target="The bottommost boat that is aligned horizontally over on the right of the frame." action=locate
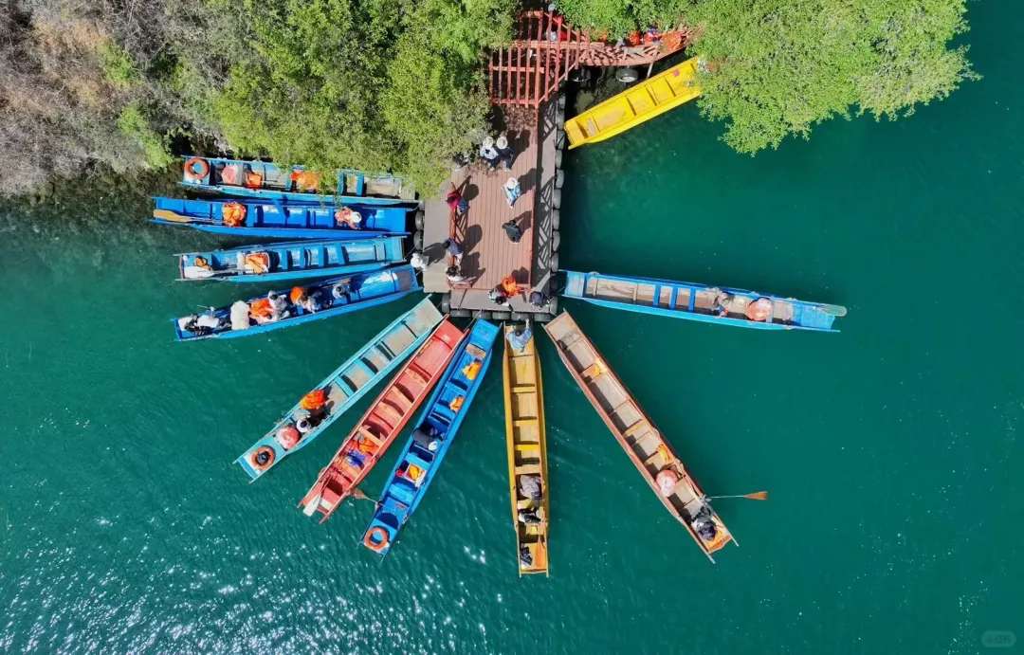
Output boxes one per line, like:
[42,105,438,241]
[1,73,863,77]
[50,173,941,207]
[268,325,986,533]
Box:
[559,269,837,331]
